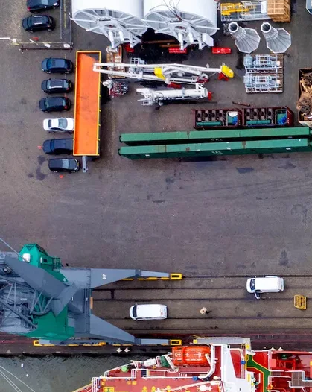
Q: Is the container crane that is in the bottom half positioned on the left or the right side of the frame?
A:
left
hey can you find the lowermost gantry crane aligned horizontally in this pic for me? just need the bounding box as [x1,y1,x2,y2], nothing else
[0,237,179,345]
